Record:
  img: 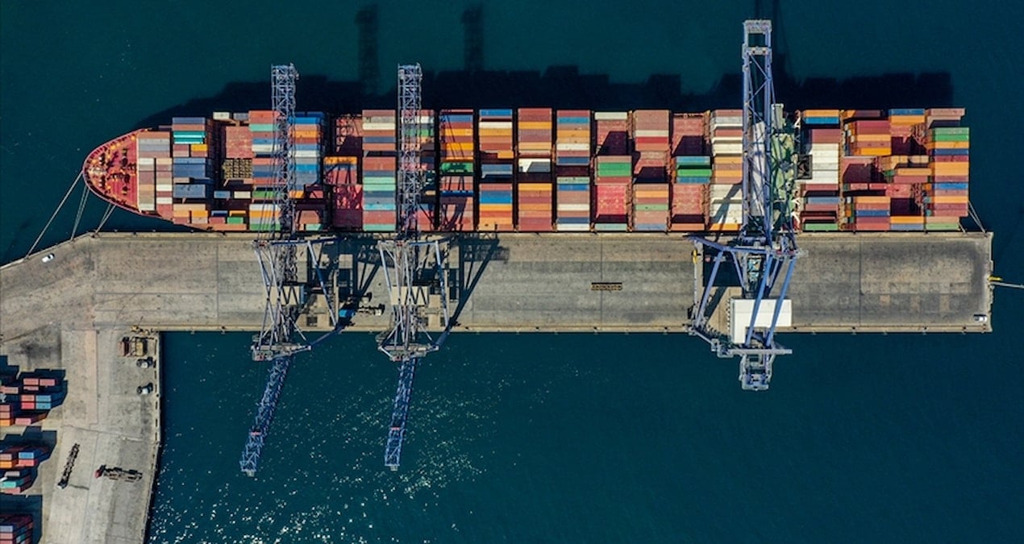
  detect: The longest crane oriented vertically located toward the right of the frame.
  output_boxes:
[682,17,810,392]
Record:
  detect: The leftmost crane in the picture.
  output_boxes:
[236,58,348,479]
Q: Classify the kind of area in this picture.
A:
port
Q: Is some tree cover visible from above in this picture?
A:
No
